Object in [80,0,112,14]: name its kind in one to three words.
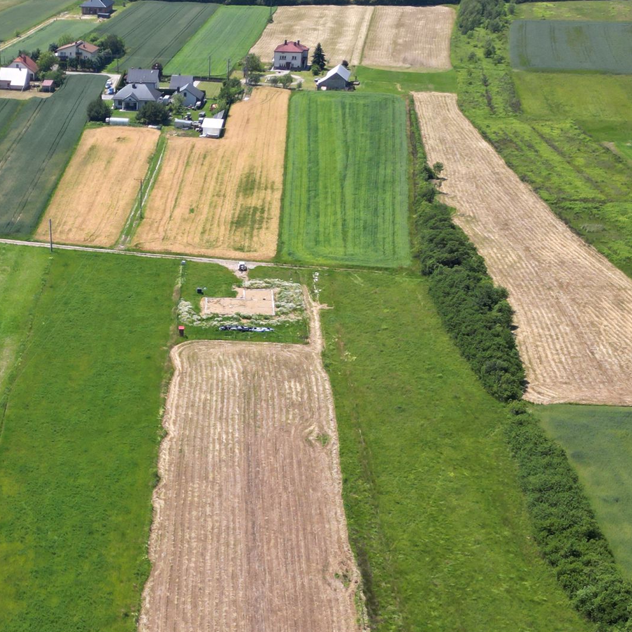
house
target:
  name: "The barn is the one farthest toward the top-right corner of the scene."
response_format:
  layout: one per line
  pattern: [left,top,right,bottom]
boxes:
[317,63,353,92]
